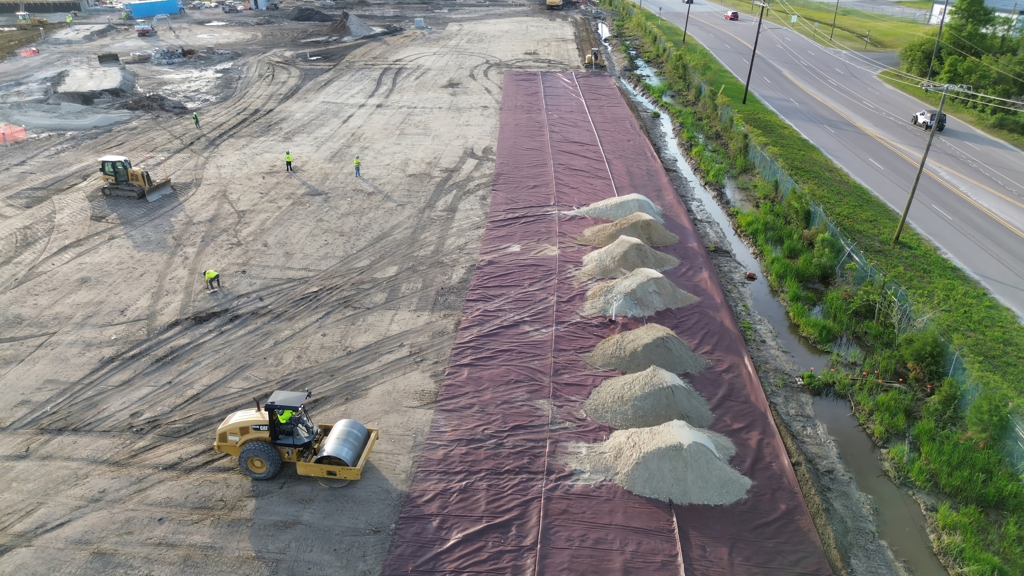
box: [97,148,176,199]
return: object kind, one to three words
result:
work vehicle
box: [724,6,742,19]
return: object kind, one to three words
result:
vehicle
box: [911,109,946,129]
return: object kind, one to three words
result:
car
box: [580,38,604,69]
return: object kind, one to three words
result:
work vehicle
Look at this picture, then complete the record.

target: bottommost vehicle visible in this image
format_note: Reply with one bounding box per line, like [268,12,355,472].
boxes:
[212,384,377,487]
